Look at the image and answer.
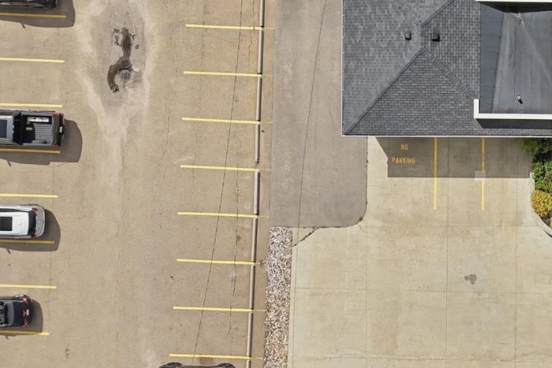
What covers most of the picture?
paved ground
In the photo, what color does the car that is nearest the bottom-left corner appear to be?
black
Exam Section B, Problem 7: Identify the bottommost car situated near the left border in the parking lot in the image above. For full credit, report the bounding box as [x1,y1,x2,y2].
[0,293,36,328]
